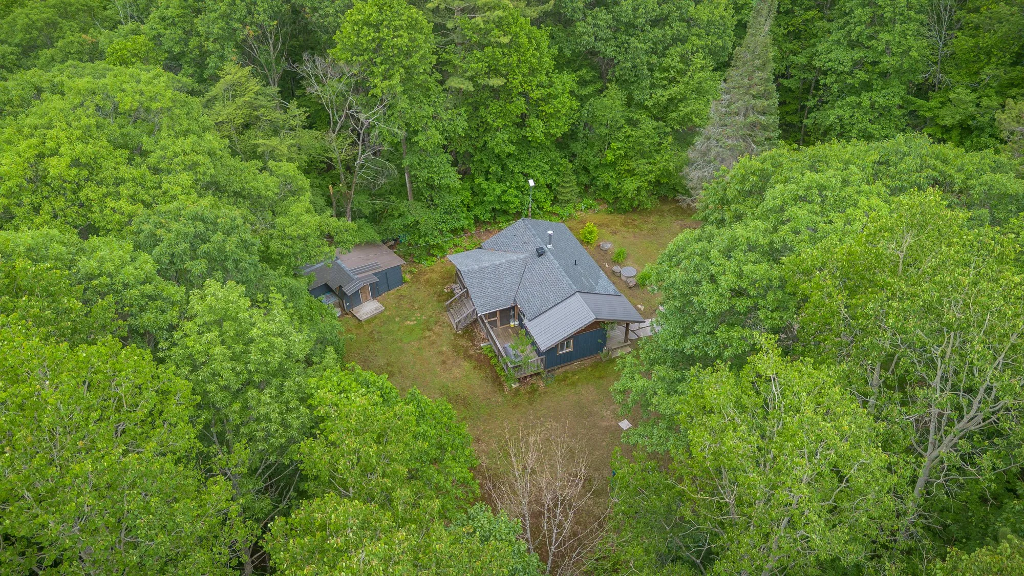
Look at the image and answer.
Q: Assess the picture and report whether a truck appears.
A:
No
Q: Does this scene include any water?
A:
No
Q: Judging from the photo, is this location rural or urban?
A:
rural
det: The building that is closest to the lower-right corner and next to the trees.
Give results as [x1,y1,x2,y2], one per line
[444,218,646,385]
